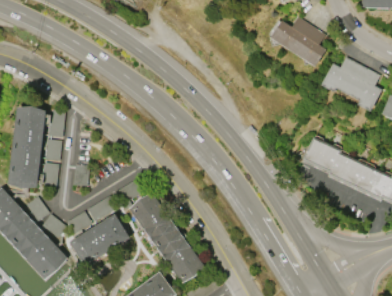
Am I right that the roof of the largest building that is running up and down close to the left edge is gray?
Yes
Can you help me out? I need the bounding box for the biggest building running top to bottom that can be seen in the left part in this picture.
[8,107,46,188]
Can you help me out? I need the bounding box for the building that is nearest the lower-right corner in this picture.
[304,138,392,204]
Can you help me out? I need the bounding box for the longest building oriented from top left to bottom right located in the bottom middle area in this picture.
[130,196,203,282]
